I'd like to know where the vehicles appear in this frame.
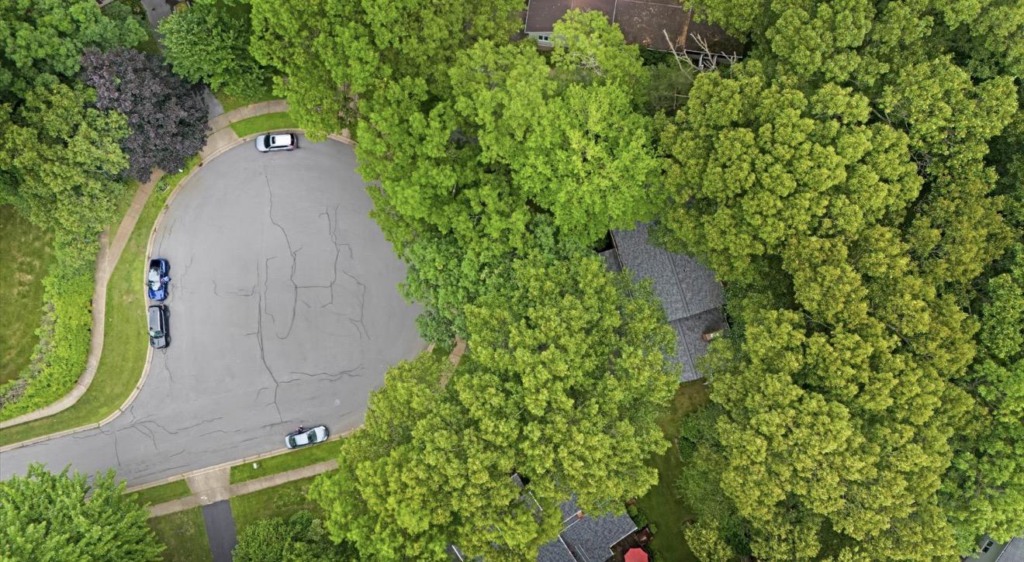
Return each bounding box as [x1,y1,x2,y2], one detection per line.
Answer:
[145,258,168,300]
[283,426,328,450]
[254,131,296,152]
[146,305,170,348]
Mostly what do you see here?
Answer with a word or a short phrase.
trees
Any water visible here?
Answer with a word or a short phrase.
No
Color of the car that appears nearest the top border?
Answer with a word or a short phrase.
white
